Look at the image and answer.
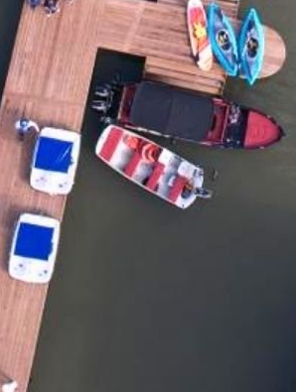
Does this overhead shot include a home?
No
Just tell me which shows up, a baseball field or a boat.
boat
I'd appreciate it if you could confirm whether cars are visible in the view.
No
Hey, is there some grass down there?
No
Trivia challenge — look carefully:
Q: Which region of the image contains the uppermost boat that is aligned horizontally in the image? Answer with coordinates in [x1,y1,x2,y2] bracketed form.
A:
[103,82,287,153]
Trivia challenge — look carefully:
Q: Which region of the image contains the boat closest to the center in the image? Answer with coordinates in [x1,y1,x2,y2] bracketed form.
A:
[96,125,207,211]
